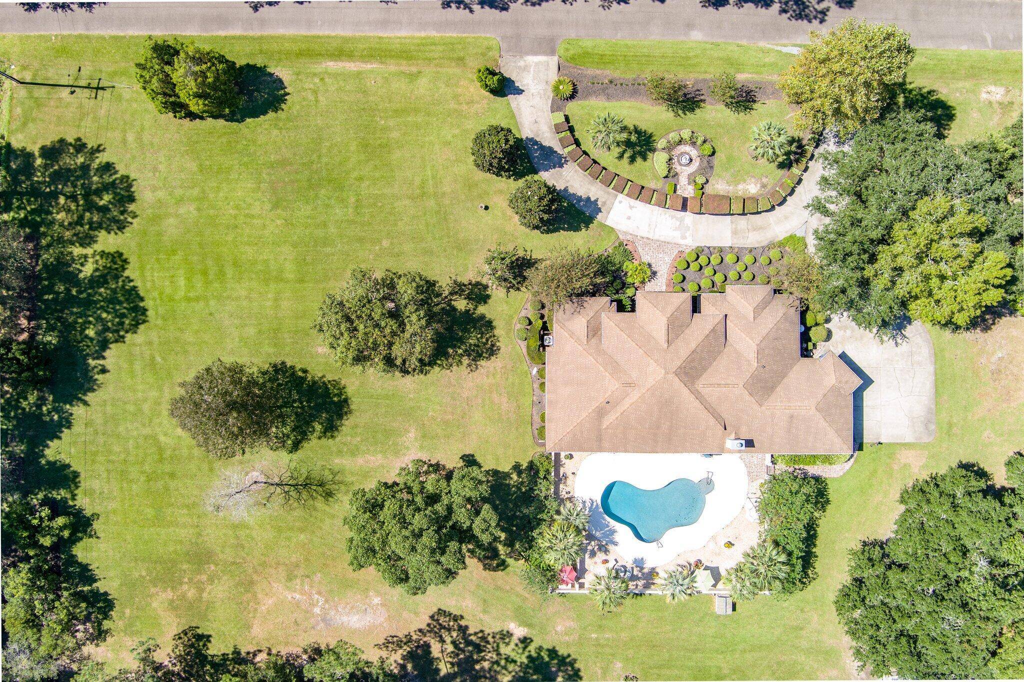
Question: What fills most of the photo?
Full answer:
The largest share of the image is taken up by grass.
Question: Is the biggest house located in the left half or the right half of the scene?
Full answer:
The biggest house is on the right side of the image.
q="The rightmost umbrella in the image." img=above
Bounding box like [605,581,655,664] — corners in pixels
[690,568,716,594]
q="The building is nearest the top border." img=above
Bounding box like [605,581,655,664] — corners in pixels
[545,285,864,454]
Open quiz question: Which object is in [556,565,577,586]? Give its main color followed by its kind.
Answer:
pink umbrella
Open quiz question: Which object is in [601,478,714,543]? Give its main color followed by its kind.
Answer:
blue swimming pool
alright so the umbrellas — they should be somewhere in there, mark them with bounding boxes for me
[690,568,716,594]
[556,565,577,586]
[586,565,606,588]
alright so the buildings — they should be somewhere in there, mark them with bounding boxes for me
[713,593,732,616]
[545,285,864,454]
